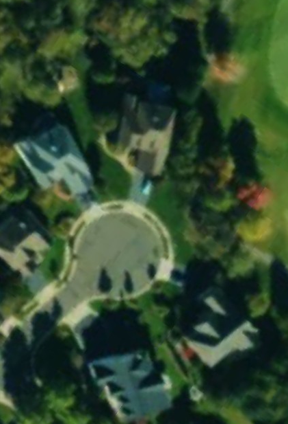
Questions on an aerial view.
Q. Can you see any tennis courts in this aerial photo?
No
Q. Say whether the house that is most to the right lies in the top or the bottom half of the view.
bottom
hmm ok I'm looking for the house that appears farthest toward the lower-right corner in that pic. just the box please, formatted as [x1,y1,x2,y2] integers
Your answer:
[186,287,258,368]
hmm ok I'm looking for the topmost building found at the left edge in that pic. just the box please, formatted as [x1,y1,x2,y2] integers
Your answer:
[12,120,97,199]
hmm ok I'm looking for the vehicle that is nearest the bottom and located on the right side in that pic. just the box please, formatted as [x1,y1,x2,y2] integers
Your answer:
[170,268,185,282]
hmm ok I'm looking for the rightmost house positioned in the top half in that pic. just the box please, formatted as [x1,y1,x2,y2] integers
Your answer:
[116,81,178,180]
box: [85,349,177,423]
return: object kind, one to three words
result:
house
